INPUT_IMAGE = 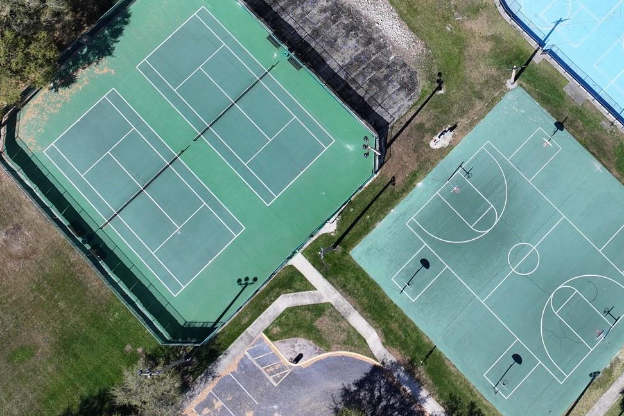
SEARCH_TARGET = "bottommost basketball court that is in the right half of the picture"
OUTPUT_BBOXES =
[349,86,624,416]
